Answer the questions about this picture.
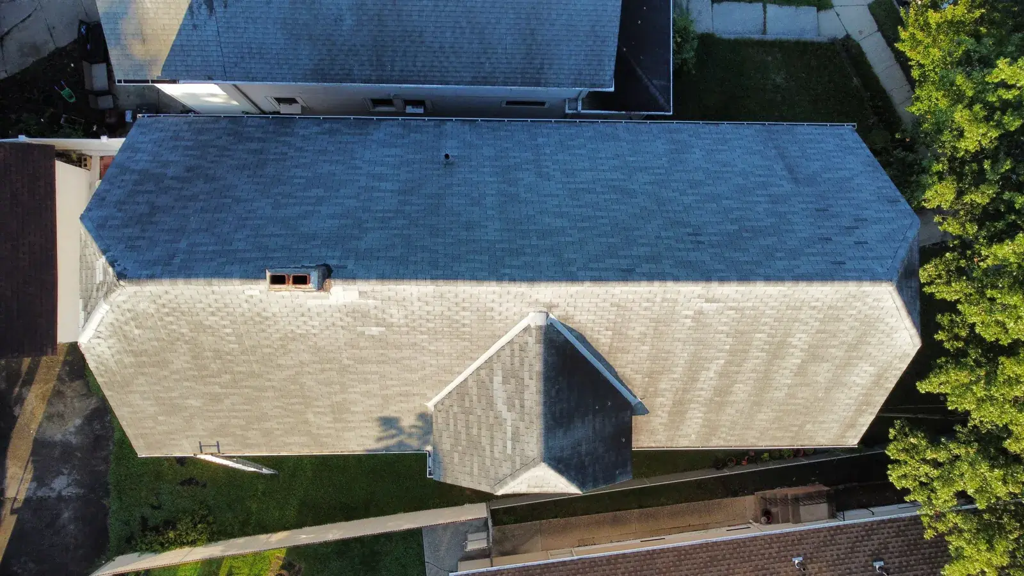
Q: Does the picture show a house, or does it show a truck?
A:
house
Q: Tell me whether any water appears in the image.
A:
No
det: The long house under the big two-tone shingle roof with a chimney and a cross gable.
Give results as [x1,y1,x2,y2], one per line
[75,114,923,497]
